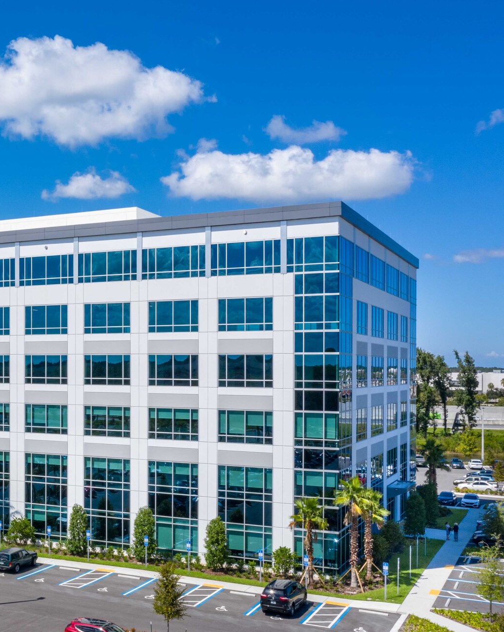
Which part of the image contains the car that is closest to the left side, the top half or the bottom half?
bottom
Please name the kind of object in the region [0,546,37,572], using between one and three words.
car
